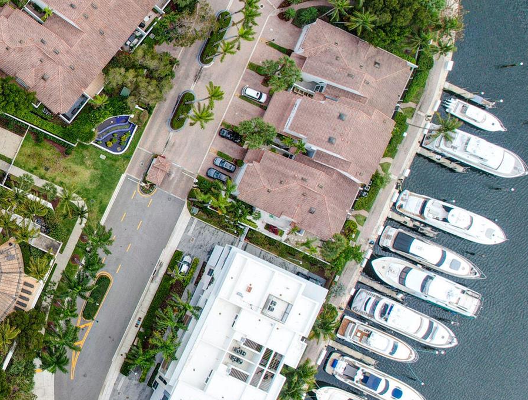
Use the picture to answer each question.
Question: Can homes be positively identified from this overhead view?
Yes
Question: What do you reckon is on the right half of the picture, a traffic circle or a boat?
boat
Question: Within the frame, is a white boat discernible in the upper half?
Yes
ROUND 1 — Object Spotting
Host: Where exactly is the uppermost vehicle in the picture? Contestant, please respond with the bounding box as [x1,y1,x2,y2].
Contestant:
[241,86,267,102]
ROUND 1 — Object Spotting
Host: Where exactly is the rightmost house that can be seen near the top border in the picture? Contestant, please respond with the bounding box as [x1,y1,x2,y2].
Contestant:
[285,18,410,118]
